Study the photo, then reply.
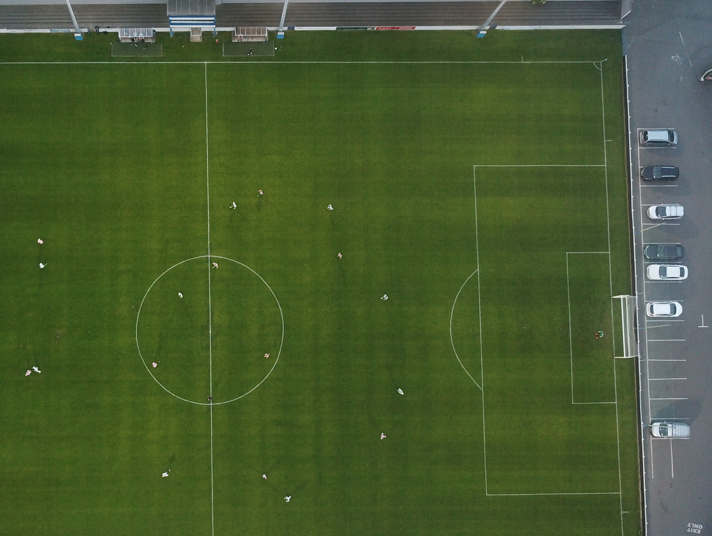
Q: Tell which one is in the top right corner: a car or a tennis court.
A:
car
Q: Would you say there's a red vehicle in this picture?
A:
No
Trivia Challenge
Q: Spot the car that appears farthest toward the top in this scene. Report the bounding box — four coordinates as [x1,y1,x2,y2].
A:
[640,129,676,147]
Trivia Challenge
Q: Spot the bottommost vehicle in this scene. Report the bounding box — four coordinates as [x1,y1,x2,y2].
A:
[650,421,691,439]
